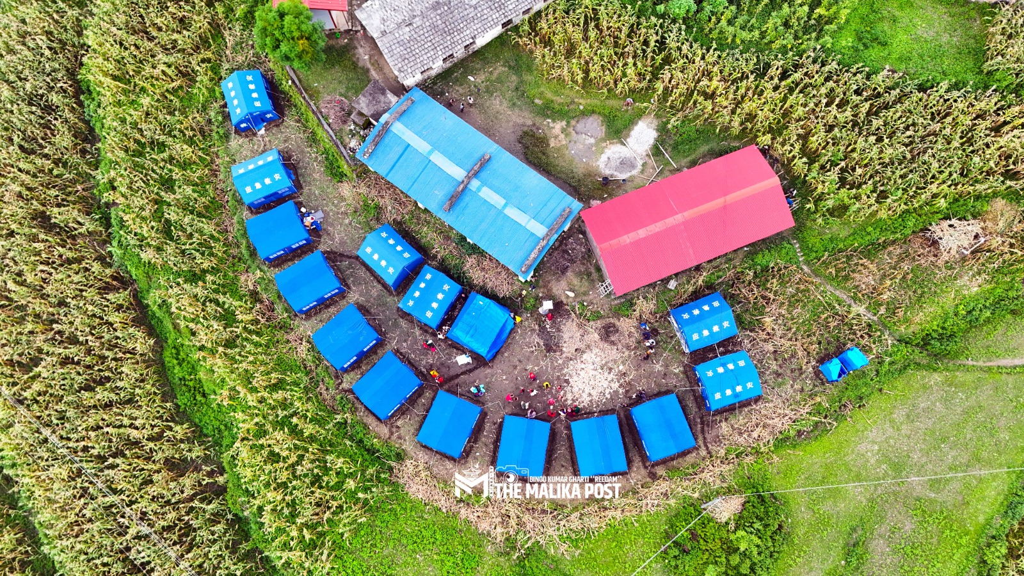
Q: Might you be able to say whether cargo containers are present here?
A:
No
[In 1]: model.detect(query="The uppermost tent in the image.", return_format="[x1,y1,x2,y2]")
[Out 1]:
[221,70,289,145]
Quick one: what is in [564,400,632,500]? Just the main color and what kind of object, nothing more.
blue tent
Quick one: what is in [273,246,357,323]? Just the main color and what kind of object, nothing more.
blue tent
